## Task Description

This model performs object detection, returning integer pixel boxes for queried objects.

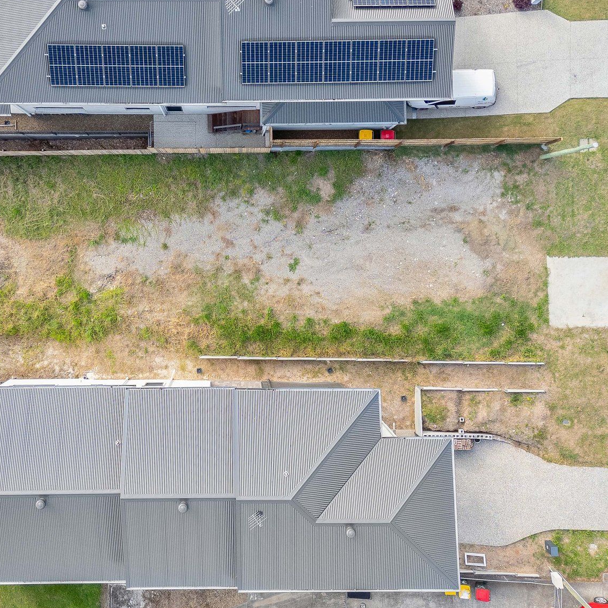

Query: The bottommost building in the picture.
[0,369,463,594]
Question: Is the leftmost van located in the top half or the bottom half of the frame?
top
